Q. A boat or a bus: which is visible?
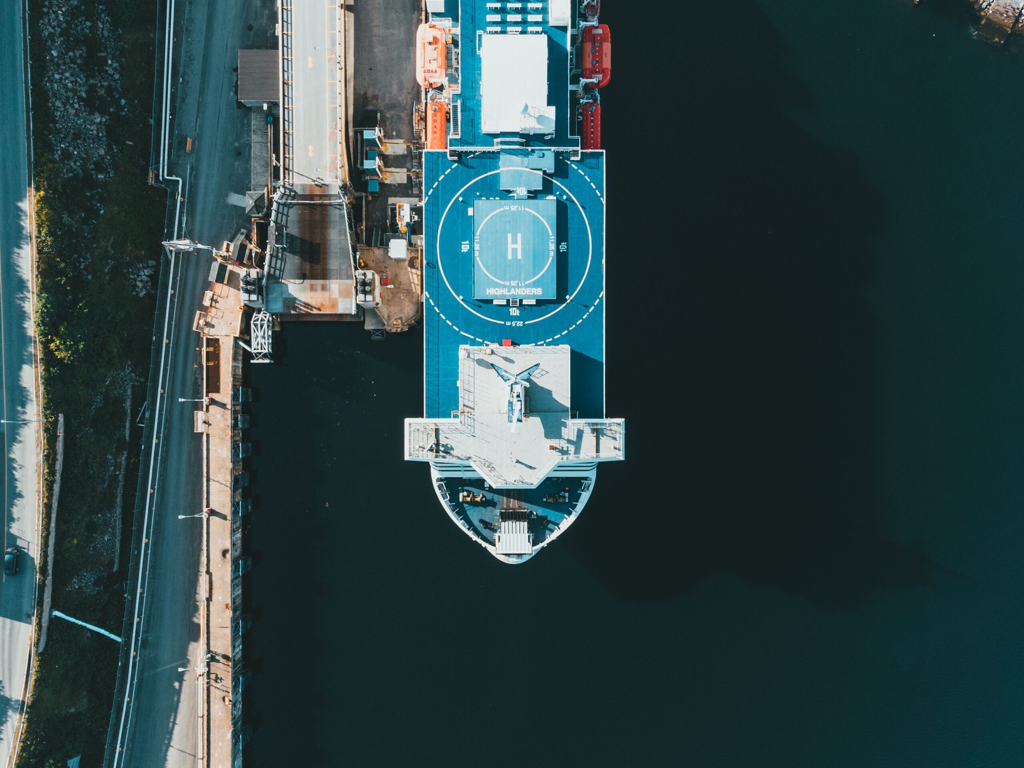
boat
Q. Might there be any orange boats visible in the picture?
Yes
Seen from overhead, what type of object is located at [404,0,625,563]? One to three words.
ship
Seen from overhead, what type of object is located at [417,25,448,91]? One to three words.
boat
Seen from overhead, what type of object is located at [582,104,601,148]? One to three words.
boat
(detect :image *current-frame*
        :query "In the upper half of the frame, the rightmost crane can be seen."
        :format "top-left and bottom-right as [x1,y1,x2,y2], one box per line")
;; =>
[387,203,421,245]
